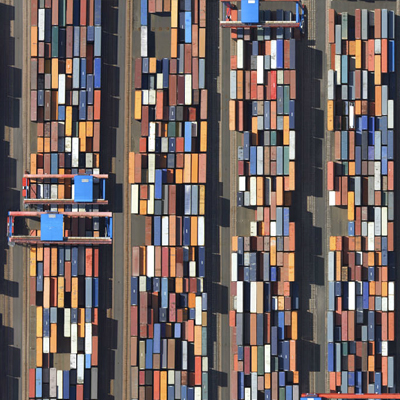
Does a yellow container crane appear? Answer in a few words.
No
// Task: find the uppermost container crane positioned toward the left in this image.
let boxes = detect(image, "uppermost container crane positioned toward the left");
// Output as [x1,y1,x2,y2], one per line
[24,171,108,212]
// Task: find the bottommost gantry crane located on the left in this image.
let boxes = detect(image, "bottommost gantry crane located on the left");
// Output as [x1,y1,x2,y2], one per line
[9,209,113,254]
